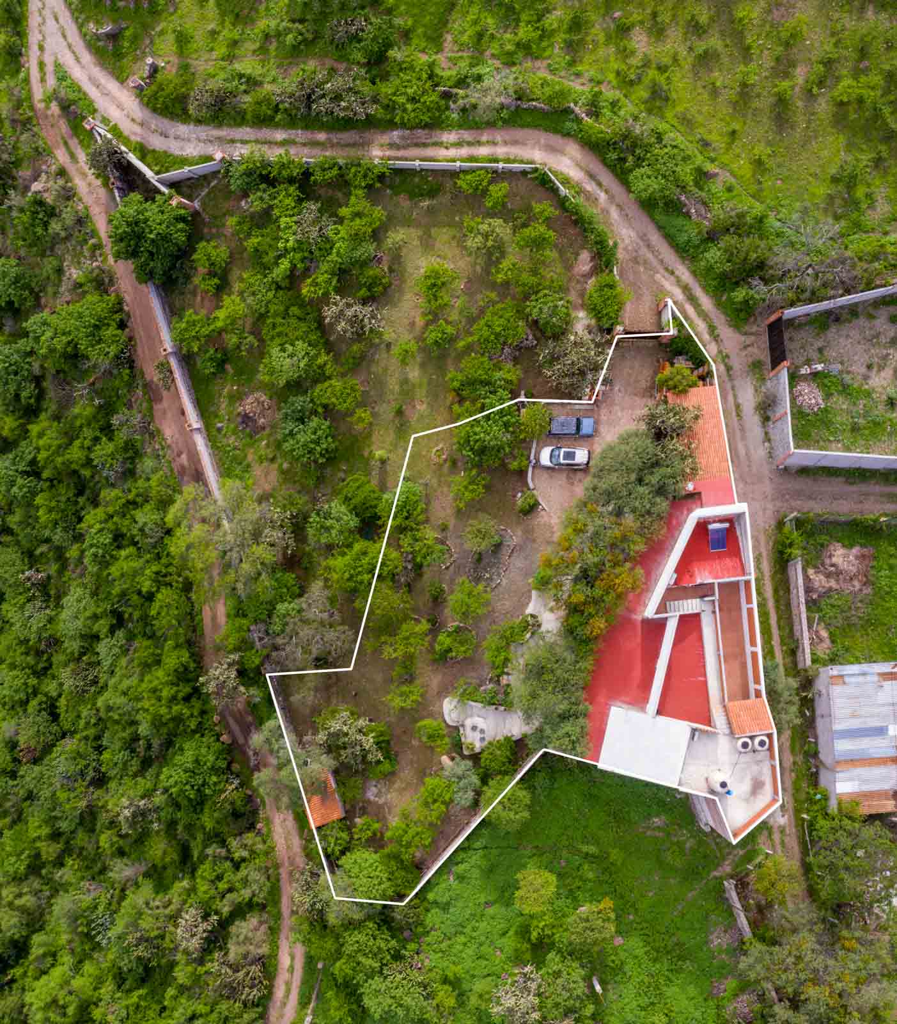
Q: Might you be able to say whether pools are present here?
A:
No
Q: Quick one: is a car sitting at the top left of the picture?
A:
No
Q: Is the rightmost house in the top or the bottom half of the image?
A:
bottom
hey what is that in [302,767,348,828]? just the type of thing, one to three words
shed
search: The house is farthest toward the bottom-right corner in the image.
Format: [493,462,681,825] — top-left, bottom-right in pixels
[818,662,897,814]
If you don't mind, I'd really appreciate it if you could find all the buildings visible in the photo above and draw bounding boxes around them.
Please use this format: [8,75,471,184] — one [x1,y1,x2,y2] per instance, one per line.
[818,662,897,814]
[582,497,782,842]
[302,767,348,828]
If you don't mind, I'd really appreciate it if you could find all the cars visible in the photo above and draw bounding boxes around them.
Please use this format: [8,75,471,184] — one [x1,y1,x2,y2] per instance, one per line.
[539,444,590,469]
[548,414,593,439]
